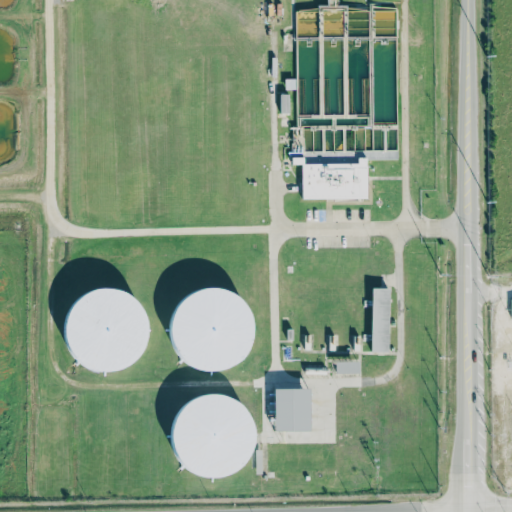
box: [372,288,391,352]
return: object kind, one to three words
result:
shed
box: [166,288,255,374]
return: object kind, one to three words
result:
storage tank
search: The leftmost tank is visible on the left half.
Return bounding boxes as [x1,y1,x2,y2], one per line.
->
[61,288,148,374]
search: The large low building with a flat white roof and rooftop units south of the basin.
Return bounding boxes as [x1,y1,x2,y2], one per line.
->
[292,158,368,202]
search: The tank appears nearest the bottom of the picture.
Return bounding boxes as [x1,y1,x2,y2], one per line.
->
[167,393,256,482]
